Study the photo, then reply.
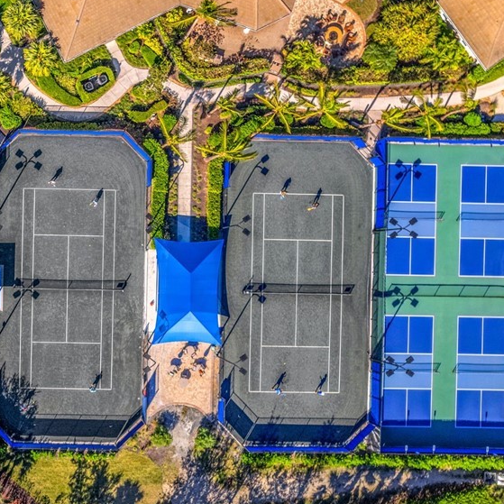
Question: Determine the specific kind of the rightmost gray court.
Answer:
tennis court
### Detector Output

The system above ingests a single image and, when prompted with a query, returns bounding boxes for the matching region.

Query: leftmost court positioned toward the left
[0,135,146,444]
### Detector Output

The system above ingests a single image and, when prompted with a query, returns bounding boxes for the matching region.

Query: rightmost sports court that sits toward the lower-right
[445,298,504,448]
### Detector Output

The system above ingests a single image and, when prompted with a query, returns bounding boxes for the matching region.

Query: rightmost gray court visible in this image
[221,140,374,446]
